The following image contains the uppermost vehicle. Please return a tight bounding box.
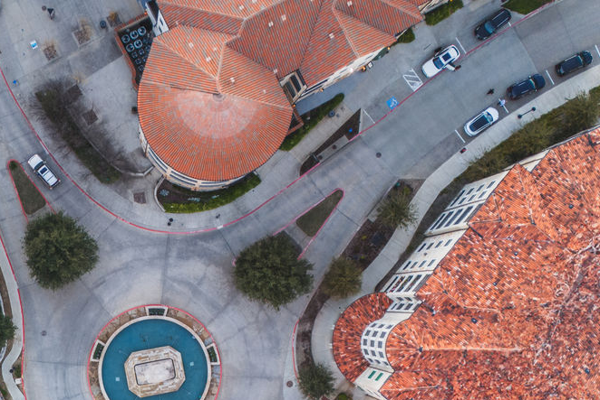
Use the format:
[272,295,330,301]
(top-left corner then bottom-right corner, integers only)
[476,4,514,36]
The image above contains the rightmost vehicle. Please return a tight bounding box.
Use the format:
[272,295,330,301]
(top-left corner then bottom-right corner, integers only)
[555,47,596,73]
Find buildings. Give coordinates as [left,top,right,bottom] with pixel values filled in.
[335,124,600,400]
[137,0,450,189]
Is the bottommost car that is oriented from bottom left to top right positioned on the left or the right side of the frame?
right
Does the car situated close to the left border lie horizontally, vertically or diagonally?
diagonally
